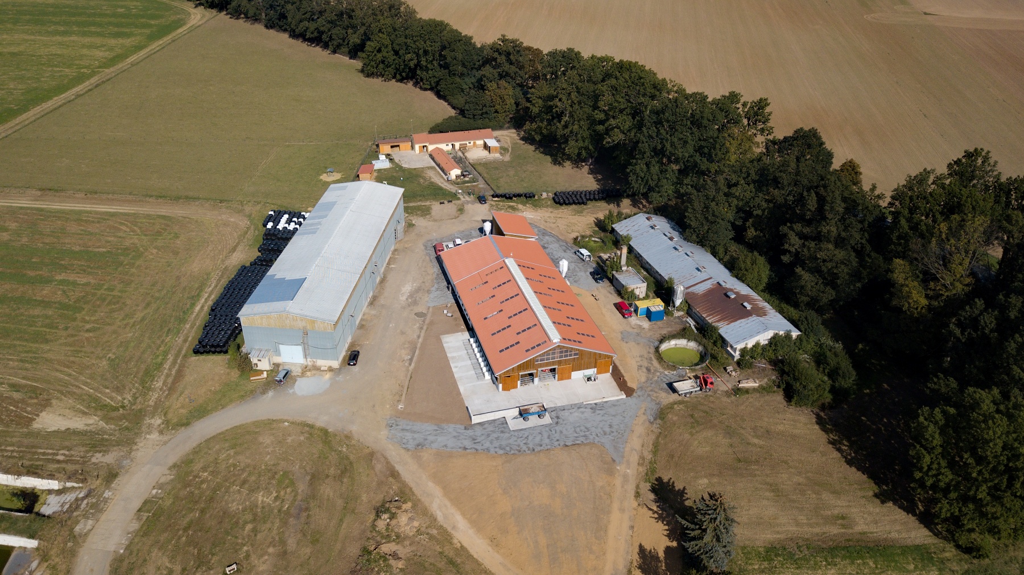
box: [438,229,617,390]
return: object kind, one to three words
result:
barn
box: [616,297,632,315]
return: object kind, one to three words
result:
vehicle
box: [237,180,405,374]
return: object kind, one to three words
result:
hangar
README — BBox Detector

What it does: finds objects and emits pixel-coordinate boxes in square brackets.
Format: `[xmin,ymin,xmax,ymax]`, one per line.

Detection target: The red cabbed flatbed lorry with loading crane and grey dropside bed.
[676,372,717,394]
